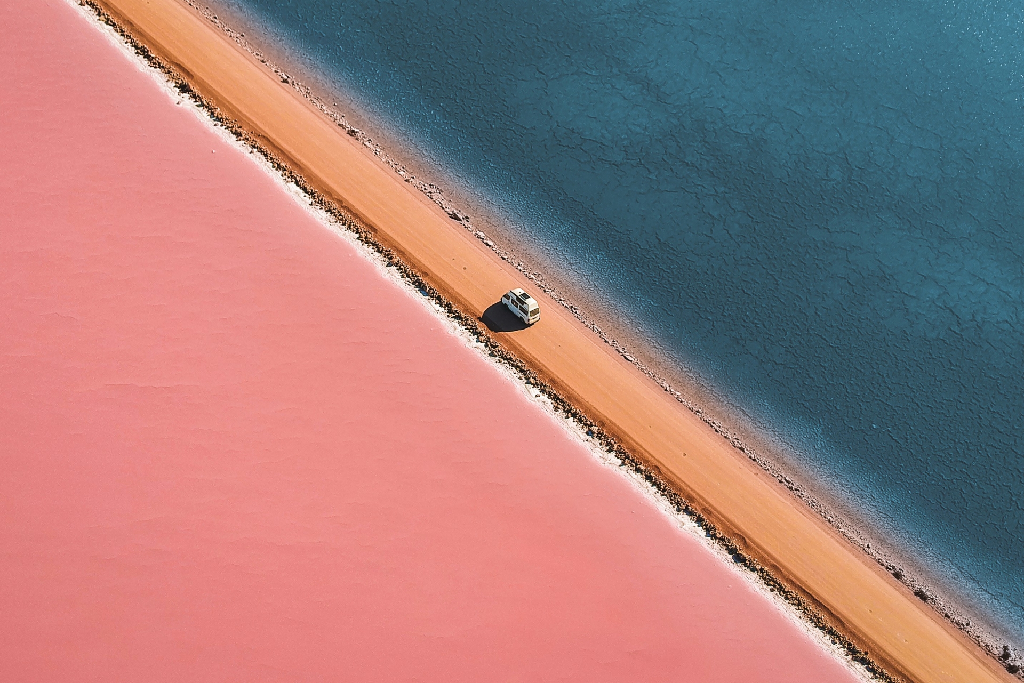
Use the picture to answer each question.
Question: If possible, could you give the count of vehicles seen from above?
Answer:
one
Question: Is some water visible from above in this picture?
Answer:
Yes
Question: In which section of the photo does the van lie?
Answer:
center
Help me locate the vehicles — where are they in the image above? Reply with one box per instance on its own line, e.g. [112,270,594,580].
[499,286,542,325]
